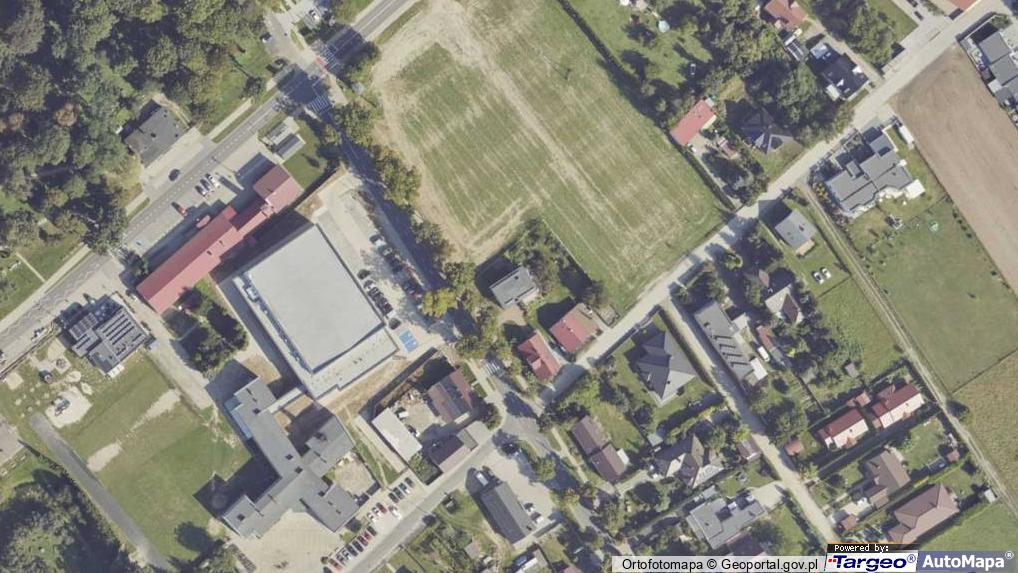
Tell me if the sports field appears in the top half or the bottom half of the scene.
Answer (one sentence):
The sports field sits in the bottom half of the picture.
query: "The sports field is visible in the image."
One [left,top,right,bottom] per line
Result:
[60,350,235,573]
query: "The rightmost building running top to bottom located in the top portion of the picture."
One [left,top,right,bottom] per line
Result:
[977,32,1018,108]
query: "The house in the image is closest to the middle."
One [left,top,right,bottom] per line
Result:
[490,266,539,308]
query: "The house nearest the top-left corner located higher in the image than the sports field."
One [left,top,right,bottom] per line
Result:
[125,107,186,167]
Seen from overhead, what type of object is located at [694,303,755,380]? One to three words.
house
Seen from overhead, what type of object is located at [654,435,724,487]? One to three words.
house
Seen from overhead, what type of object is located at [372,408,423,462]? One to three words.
building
